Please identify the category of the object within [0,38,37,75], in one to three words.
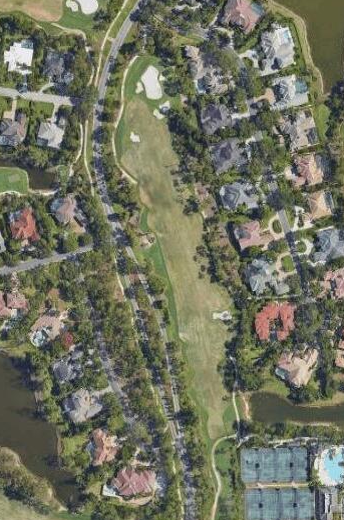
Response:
house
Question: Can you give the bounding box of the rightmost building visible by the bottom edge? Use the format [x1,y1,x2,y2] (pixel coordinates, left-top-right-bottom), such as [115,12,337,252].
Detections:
[313,489,330,520]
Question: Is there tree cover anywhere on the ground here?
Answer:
Yes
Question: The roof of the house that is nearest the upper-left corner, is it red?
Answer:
No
